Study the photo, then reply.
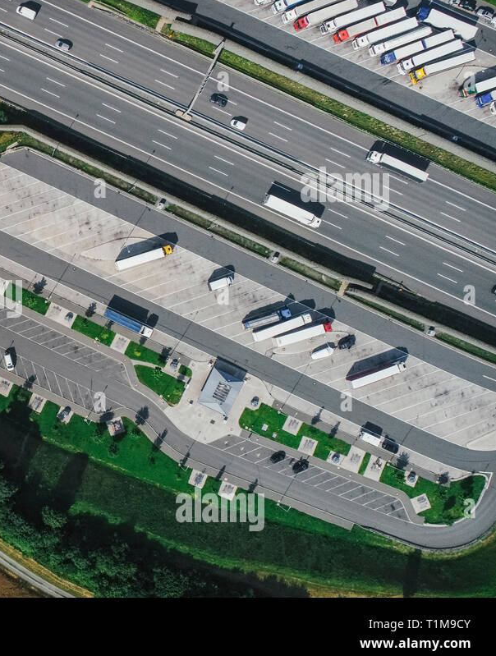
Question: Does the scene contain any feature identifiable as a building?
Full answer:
Yes, there's a building down there.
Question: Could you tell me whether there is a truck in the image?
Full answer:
Yes, there's a truck down there.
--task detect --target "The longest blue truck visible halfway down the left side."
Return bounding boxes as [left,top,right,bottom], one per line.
[102,308,156,339]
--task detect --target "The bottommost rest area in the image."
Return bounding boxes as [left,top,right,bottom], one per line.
[0,146,496,553]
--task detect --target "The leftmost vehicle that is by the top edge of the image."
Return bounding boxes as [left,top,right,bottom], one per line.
[17,6,35,20]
